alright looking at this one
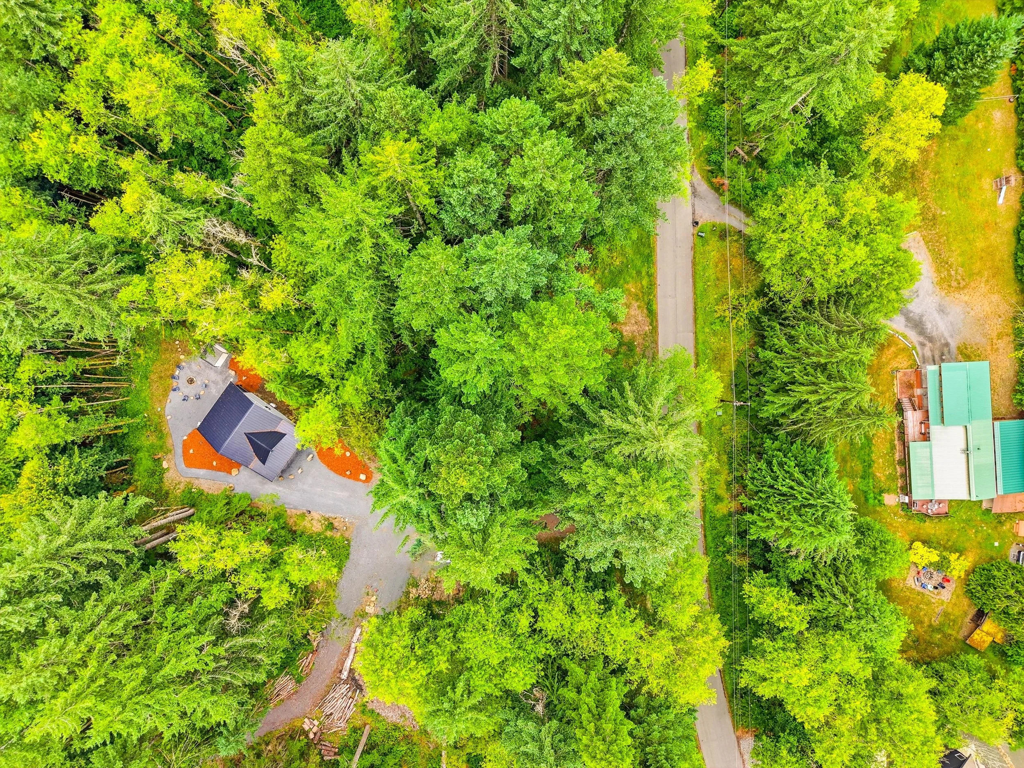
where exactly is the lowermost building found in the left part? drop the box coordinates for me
[196,375,306,482]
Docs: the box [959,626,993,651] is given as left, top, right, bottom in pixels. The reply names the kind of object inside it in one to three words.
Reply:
shed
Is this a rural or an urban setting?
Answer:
rural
